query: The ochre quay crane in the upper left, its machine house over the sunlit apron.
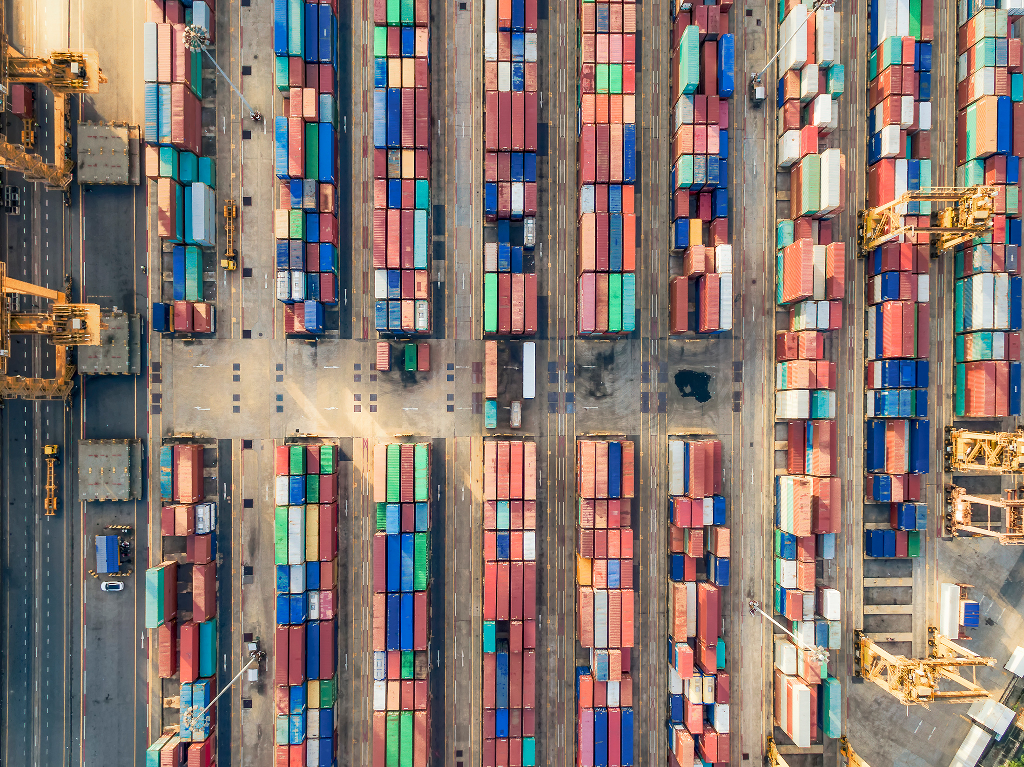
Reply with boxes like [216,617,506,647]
[0,30,109,203]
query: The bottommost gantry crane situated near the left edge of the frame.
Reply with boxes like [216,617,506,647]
[0,269,109,405]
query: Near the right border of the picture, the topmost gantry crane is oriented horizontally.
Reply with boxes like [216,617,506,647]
[857,194,993,258]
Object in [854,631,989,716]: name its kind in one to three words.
container crane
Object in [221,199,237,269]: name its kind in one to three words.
vehicle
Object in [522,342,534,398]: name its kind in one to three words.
vehicle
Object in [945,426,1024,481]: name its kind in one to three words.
container crane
